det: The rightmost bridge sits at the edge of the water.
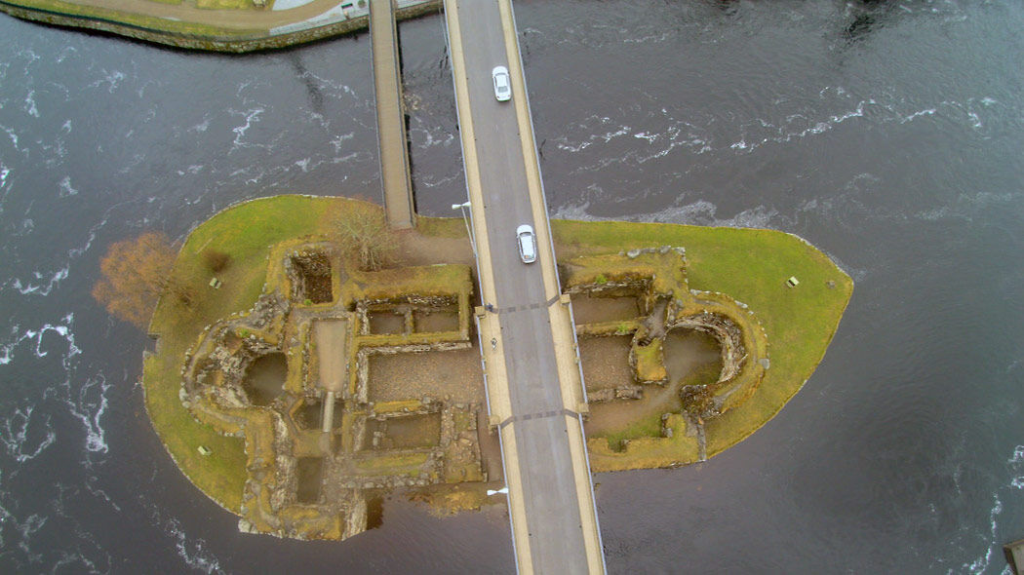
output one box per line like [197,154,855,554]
[444,0,607,575]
